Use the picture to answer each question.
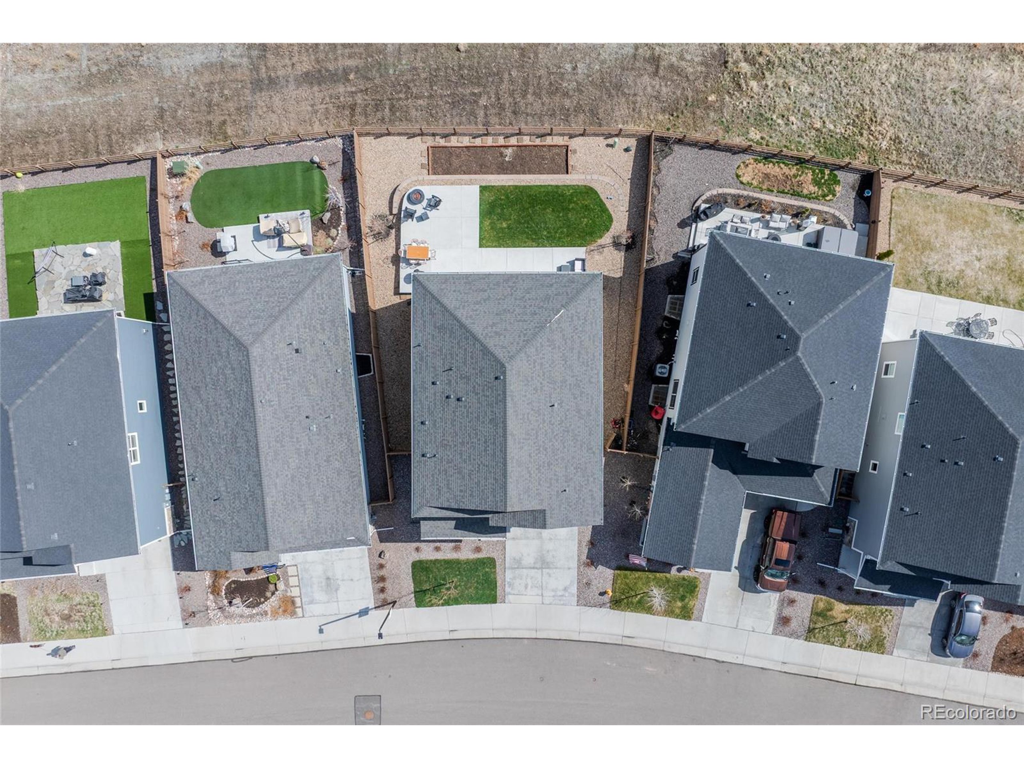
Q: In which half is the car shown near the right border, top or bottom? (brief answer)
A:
bottom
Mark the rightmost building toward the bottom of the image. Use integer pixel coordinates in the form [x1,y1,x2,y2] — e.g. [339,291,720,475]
[817,331,1024,605]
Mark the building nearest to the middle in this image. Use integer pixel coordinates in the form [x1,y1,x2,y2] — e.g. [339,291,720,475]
[410,272,605,540]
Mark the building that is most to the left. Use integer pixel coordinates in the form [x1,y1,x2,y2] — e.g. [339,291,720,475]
[0,308,186,581]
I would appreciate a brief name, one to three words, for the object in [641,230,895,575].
house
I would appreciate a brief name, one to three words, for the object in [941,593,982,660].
car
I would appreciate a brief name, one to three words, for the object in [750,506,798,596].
truck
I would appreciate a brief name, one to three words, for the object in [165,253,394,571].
house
